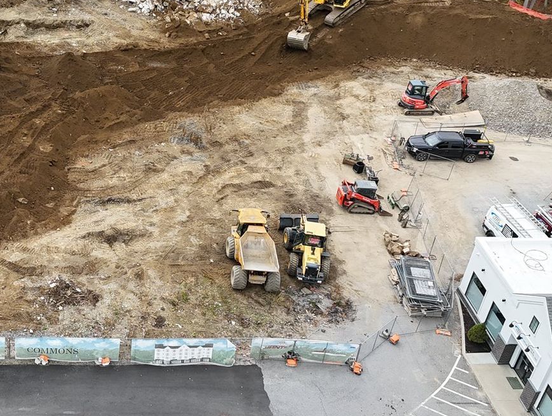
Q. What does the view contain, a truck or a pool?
truck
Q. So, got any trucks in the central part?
Yes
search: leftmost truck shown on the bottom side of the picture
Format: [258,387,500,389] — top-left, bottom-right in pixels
[227,207,283,293]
